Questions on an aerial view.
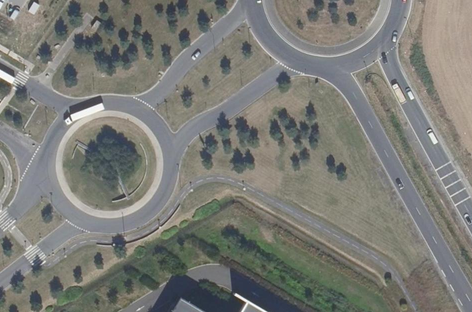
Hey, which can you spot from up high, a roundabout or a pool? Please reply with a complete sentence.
The one in the frame is a roundabout.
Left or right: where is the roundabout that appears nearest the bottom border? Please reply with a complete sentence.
The roundabout that appears nearest the bottom border sits on the left side.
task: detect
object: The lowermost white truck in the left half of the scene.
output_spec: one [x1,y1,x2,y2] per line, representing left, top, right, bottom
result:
[64,101,104,123]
